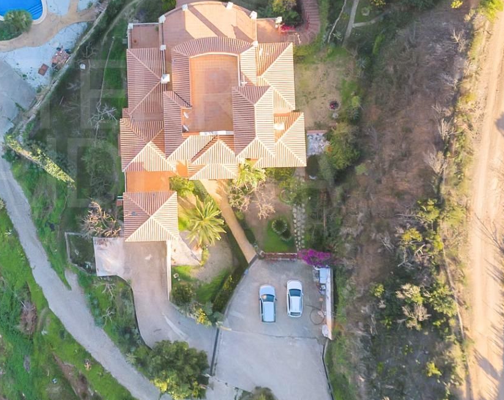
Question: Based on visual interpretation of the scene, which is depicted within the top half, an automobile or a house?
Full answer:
The feature located within the top half is a house.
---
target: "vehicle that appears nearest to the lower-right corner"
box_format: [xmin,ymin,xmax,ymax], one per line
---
[287,281,305,320]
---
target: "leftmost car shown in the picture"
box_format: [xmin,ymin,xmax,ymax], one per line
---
[259,285,278,324]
